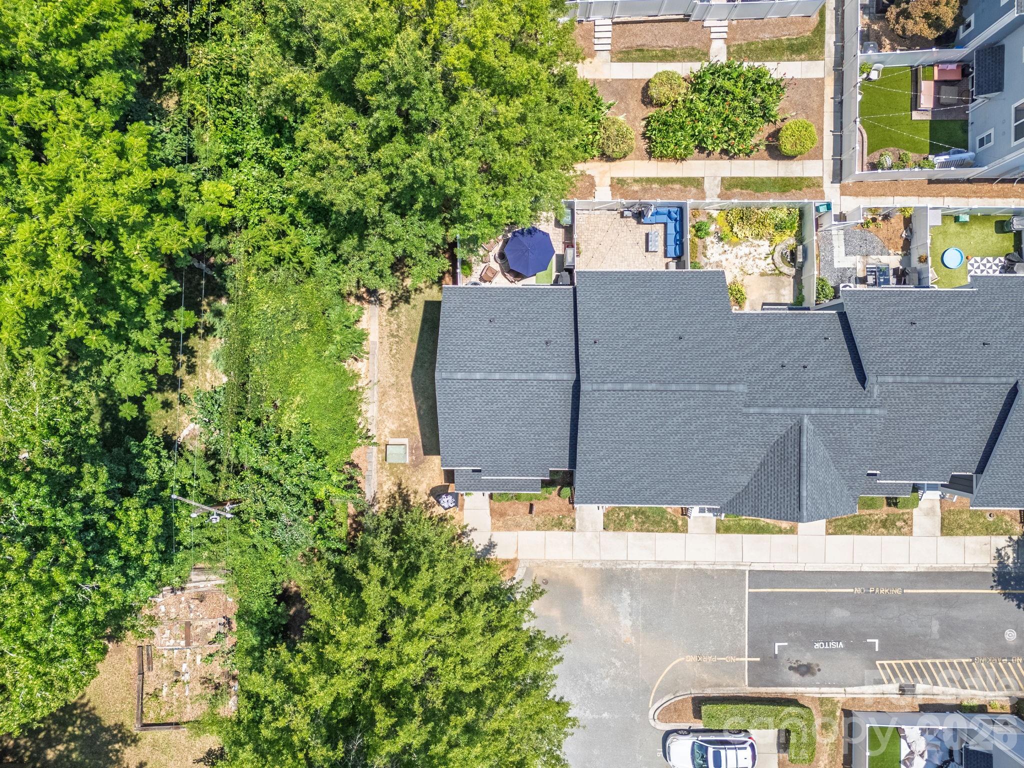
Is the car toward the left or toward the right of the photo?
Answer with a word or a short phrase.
right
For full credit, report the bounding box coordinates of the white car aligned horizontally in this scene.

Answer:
[665,730,757,768]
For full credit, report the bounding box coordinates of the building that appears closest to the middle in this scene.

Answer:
[435,284,579,493]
